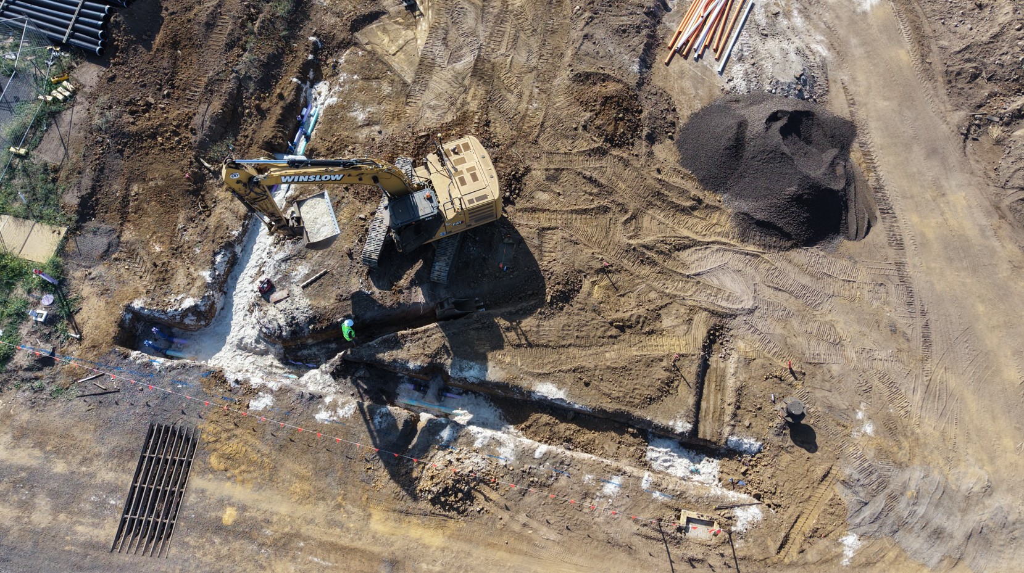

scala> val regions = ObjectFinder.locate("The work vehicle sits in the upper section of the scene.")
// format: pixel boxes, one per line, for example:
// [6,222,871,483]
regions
[217,131,505,285]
